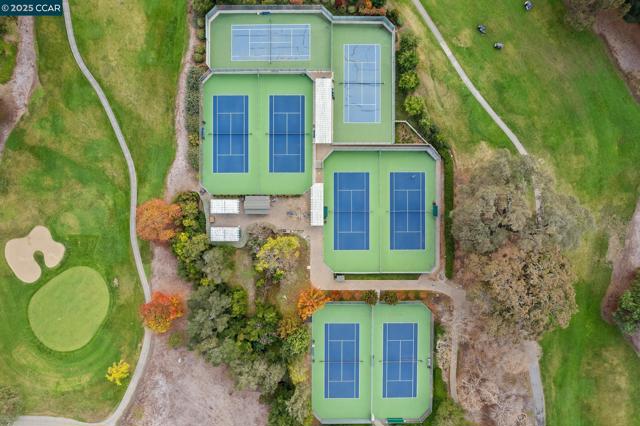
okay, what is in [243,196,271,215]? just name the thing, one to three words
building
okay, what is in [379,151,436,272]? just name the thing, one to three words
tennis court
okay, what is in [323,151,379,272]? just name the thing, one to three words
tennis court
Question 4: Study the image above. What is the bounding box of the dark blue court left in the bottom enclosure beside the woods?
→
[312,304,372,420]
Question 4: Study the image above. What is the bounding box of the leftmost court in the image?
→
[203,74,258,195]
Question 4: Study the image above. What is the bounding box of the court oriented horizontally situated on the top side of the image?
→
[211,13,332,71]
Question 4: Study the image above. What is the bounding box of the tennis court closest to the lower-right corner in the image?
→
[374,304,431,420]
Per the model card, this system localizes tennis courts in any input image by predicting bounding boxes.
[258,74,314,195]
[211,13,332,71]
[312,304,372,420]
[332,24,392,143]
[203,74,258,195]
[323,151,379,272]
[374,304,431,420]
[379,151,436,272]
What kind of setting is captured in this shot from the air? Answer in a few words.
golf course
